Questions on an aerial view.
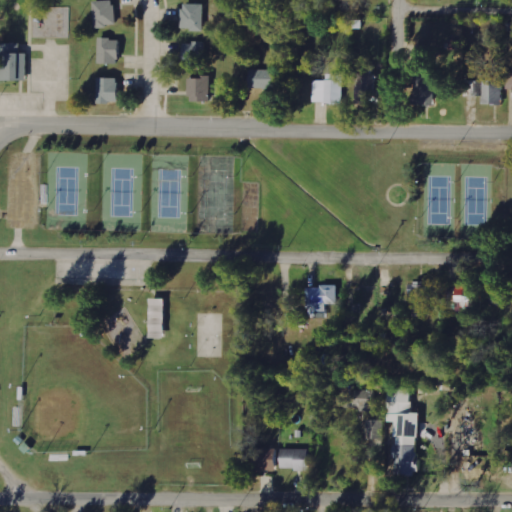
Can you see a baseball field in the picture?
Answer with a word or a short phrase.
Yes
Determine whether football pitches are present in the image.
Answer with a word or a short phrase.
Yes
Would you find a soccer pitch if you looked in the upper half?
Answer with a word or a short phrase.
No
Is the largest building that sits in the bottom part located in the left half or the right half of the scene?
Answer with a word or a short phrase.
right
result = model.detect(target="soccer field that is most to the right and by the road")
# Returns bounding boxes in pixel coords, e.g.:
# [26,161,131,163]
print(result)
[158,370,229,485]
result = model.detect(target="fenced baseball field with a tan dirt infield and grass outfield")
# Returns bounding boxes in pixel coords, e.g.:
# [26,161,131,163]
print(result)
[20,324,149,454]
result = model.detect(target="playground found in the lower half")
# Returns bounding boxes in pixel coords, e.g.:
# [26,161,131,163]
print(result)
[107,307,143,357]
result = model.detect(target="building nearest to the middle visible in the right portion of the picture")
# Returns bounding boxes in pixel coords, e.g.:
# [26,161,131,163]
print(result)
[305,285,338,318]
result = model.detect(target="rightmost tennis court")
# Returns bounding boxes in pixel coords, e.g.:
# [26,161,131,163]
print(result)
[461,164,492,238]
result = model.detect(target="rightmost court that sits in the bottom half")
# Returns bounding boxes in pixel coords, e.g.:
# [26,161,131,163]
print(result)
[197,313,222,358]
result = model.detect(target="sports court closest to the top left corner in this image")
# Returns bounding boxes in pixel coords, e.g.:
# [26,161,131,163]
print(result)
[32,8,69,38]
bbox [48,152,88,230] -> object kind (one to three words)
tennis court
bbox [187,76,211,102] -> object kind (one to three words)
house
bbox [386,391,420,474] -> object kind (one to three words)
building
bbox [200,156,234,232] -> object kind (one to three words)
sports court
